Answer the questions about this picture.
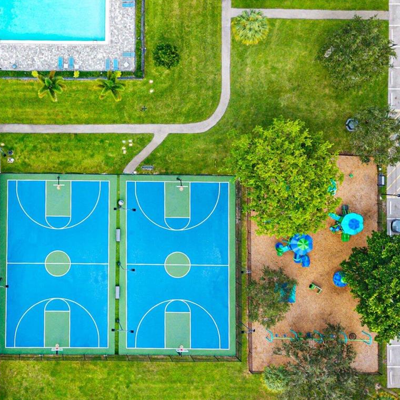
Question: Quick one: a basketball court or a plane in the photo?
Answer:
basketball court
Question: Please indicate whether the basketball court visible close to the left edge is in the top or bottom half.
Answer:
bottom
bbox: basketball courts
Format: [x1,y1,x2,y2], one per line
[120,175,236,356]
[0,175,117,355]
